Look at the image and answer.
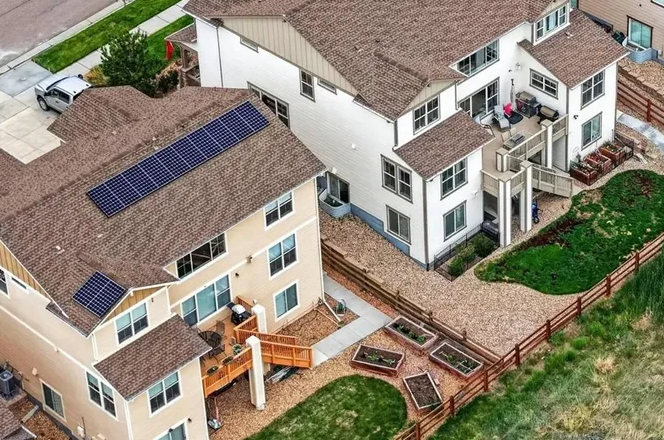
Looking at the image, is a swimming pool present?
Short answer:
No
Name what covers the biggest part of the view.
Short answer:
buildings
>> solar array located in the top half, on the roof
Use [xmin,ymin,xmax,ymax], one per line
[88,101,269,214]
